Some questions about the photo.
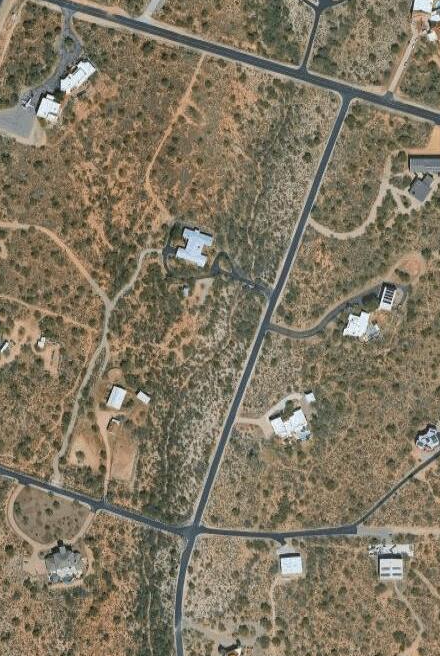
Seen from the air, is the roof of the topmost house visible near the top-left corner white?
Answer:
Yes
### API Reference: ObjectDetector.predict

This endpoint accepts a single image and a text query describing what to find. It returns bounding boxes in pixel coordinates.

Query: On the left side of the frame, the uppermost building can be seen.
[61,62,96,93]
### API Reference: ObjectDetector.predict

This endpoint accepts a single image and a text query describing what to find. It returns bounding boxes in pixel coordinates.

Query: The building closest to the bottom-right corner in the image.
[380,559,404,581]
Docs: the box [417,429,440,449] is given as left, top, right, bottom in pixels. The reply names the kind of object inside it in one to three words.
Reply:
house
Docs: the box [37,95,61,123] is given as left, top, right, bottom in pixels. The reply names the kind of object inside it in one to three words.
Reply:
hangar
